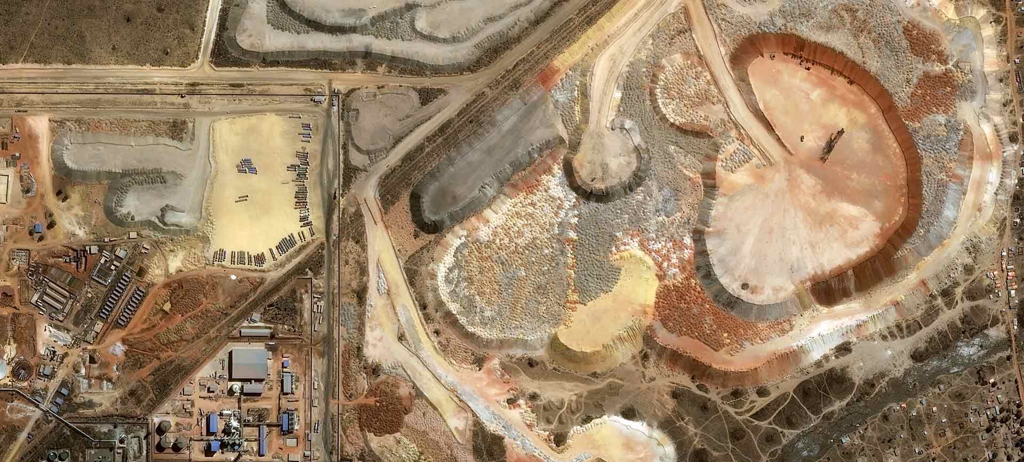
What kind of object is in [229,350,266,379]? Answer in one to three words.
building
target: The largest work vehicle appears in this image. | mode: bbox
[823,126,848,160]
